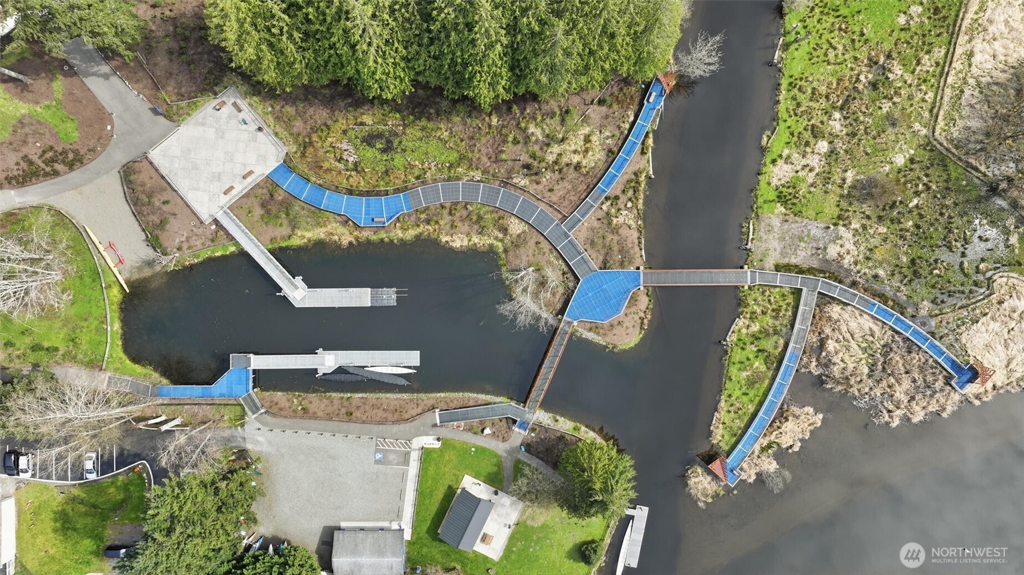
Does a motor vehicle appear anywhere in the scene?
Yes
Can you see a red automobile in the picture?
No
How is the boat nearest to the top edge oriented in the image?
diagonally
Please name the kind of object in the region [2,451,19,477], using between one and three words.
car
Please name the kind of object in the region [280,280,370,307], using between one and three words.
pier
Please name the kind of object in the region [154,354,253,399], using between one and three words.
pier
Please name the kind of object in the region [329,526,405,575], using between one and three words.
building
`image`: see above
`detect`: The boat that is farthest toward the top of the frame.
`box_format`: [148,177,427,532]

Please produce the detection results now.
[83,224,129,292]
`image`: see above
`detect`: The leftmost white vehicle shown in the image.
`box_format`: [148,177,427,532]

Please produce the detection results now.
[18,451,35,478]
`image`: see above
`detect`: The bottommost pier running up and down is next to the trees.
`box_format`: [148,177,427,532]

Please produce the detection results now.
[625,505,649,569]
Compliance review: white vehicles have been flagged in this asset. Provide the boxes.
[18,451,35,478]
[82,451,97,478]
